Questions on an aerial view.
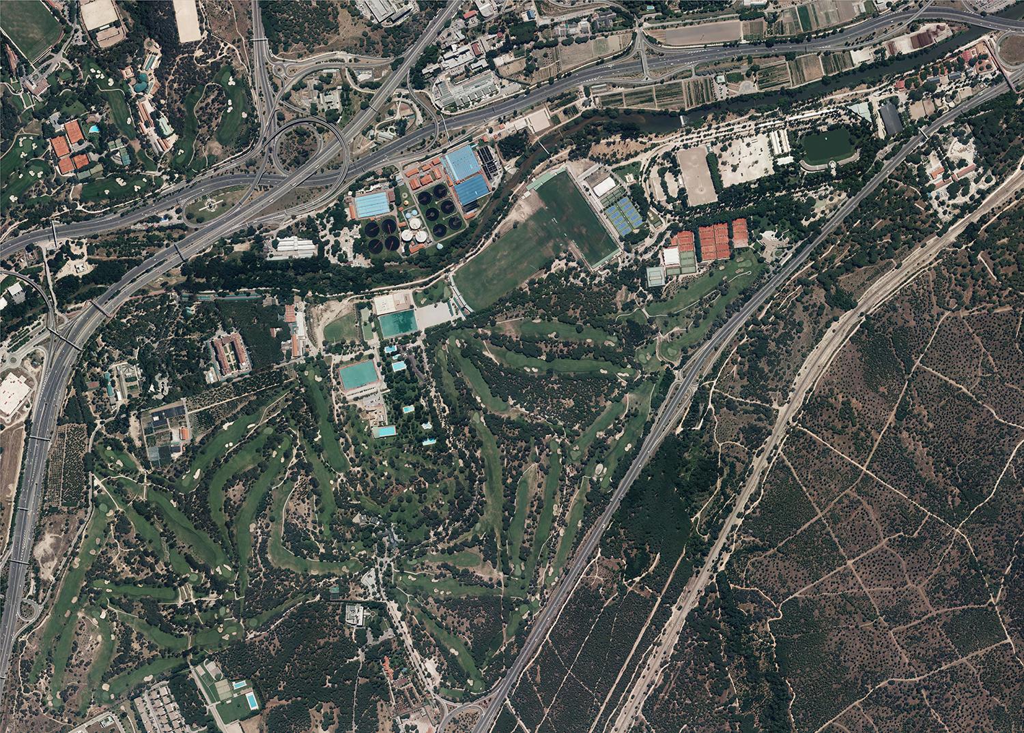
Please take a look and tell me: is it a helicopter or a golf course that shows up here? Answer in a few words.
golf course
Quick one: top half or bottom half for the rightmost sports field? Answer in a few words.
top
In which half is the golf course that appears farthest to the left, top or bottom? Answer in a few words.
top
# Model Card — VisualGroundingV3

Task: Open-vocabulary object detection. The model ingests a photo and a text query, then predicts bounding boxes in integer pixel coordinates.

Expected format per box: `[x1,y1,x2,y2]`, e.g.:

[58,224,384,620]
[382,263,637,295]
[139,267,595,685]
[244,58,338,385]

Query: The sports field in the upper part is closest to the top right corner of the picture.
[452,170,619,311]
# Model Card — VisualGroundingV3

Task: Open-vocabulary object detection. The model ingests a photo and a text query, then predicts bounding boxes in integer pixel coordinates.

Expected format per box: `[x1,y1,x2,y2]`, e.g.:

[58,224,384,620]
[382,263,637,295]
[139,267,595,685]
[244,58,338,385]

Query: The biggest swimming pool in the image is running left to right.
[372,426,397,438]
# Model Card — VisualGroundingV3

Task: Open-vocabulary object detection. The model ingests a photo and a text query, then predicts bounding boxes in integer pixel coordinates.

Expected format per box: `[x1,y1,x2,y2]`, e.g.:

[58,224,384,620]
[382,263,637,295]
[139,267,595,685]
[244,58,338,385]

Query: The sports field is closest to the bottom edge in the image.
[338,359,381,392]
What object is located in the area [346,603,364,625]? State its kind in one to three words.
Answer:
building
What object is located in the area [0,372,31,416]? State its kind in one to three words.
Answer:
building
